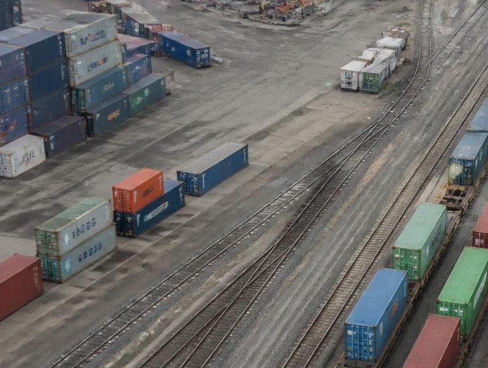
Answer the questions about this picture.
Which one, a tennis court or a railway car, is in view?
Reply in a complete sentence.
The one in the frame is a railway car.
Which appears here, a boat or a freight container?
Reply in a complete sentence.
It is a freight container that can be seen here.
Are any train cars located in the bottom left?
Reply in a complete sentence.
No, in the bottom left there is no train car.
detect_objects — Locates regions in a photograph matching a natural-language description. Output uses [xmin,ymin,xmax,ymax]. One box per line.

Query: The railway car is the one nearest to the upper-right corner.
[436,159,488,206]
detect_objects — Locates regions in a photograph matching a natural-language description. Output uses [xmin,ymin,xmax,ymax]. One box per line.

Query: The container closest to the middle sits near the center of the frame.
[178,142,249,196]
